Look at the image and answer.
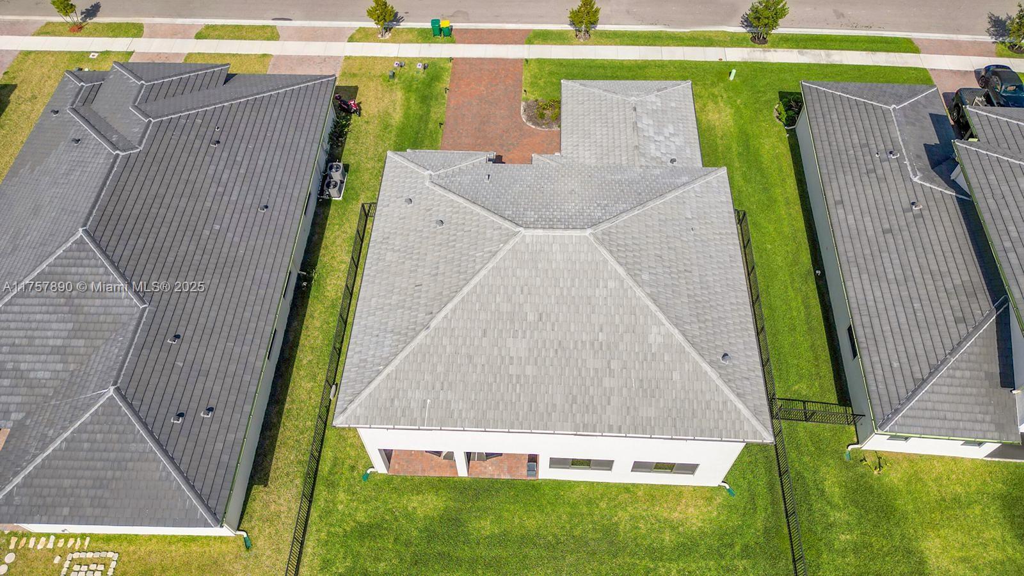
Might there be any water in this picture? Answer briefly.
No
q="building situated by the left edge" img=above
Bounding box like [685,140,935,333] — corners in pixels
[0,59,335,558]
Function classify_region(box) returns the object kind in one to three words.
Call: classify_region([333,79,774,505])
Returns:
house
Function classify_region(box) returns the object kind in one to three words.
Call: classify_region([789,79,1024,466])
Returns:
house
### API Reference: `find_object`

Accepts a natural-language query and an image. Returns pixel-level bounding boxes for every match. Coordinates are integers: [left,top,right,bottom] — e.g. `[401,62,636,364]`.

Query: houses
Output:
[789,79,1024,466]
[0,59,335,558]
[333,79,774,505]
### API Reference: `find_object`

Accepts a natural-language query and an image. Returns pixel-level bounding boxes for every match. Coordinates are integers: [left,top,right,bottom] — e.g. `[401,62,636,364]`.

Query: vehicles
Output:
[982,65,1024,109]
[955,89,998,134]
[333,83,361,111]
